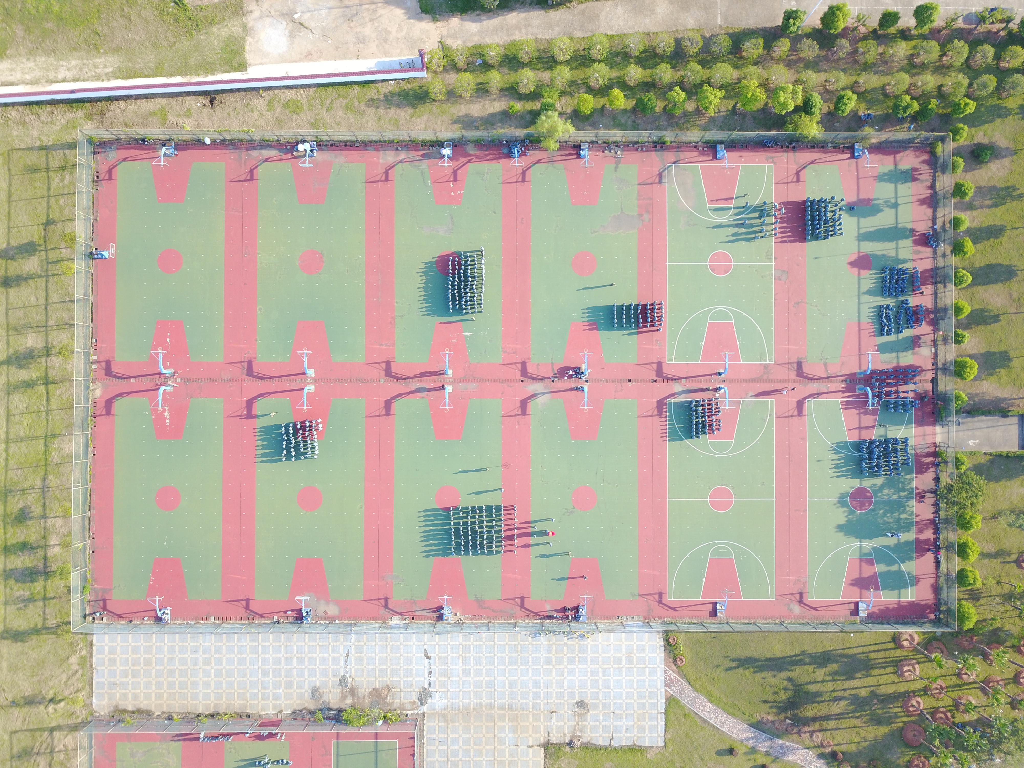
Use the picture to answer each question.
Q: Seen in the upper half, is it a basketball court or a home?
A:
basketball court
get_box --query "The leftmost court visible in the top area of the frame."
[115,162,225,362]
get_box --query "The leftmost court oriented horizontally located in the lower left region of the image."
[116,742,181,768]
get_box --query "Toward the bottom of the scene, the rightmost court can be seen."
[807,399,915,600]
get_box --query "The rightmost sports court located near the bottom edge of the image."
[332,739,398,768]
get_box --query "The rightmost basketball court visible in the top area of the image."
[806,165,913,363]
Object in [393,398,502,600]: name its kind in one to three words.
basketball court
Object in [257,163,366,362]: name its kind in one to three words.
basketball court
